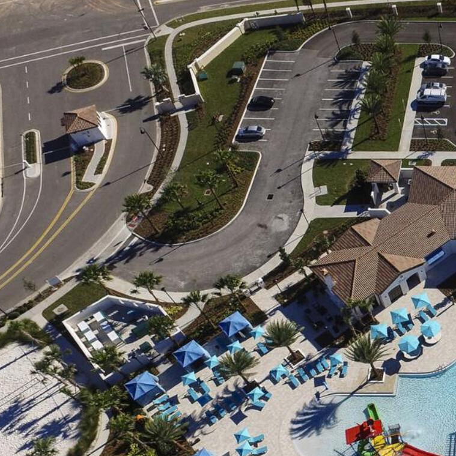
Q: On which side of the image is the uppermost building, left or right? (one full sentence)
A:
You can find the uppermost building on the left side of the picture.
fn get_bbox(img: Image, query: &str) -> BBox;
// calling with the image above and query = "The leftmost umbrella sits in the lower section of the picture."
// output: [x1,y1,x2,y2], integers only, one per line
[182,371,199,388]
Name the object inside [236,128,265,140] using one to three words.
vehicle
